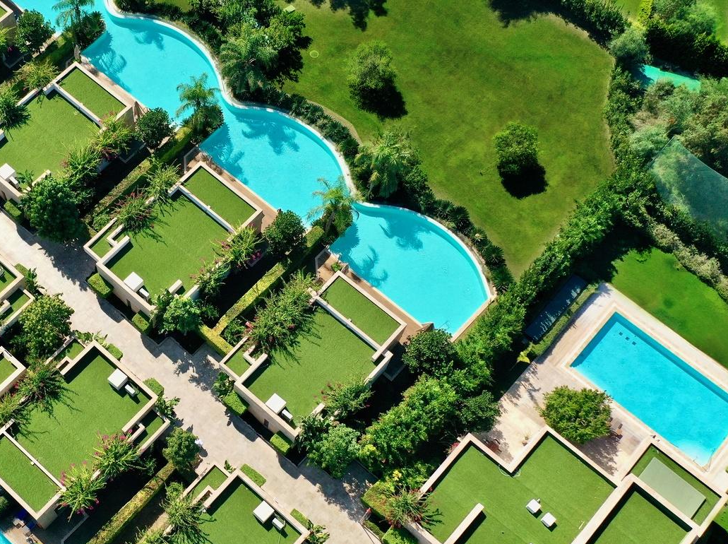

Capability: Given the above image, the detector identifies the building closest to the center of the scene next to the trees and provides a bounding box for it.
[222,272,407,448]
